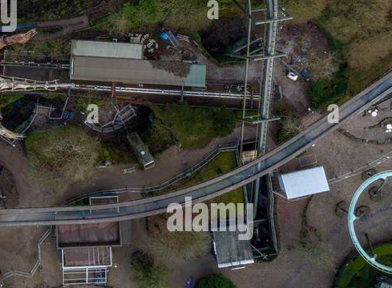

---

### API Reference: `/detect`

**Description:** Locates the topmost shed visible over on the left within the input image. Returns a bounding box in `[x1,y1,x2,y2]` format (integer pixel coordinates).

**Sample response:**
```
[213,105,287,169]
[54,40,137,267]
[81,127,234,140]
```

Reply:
[68,40,206,88]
